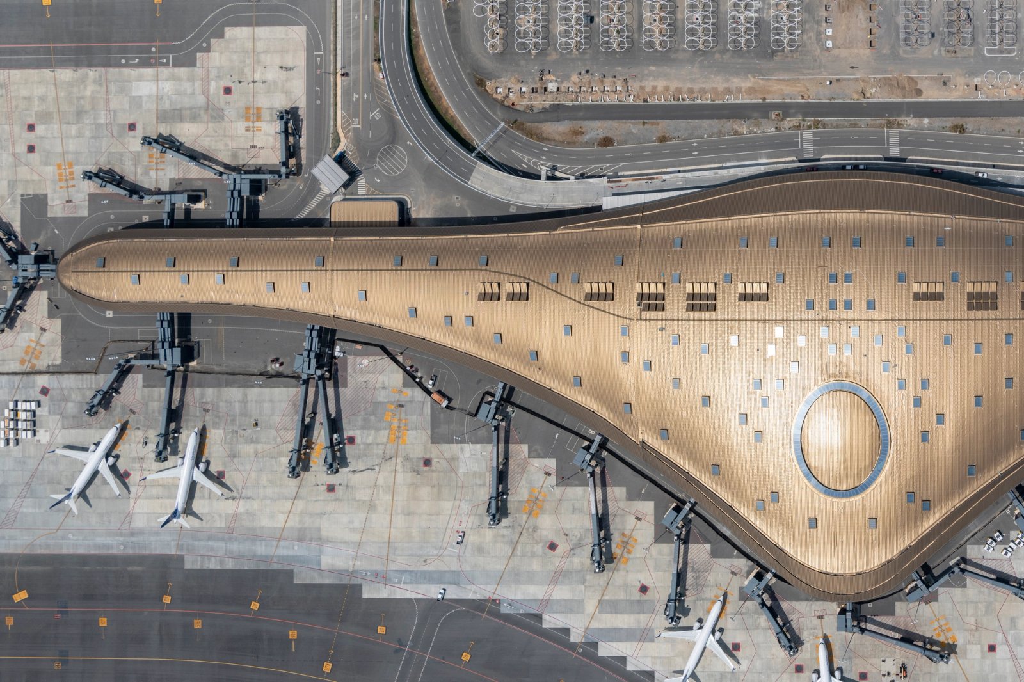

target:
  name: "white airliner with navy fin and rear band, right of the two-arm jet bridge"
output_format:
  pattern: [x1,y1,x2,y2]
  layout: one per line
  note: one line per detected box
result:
[136,428,224,529]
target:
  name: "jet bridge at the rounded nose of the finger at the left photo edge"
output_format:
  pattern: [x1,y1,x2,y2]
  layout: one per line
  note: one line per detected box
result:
[0,215,58,333]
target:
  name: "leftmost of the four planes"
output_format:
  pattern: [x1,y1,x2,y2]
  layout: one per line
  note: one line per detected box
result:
[43,423,123,515]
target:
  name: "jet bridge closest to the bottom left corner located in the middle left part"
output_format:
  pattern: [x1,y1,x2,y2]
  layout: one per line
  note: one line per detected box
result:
[87,312,197,468]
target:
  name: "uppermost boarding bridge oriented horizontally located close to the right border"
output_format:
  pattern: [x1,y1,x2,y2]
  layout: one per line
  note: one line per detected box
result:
[907,561,1024,602]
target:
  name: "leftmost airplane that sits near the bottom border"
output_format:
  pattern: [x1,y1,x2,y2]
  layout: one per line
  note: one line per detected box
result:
[655,596,737,682]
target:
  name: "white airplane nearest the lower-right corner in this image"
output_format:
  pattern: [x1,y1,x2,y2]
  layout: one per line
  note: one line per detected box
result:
[811,638,845,682]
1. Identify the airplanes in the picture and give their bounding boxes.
[655,596,737,682]
[136,428,224,529]
[43,423,123,515]
[811,638,845,682]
